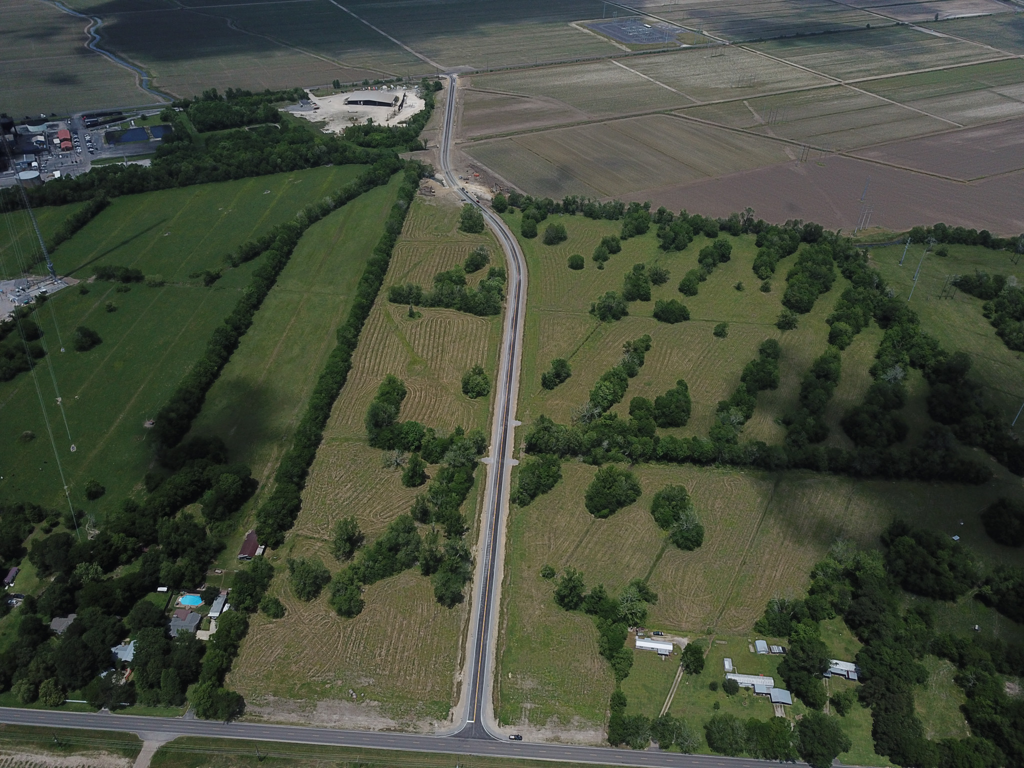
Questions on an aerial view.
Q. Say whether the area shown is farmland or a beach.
farmland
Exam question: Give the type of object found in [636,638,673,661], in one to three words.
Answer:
house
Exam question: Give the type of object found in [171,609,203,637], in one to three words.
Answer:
house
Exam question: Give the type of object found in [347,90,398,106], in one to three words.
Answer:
building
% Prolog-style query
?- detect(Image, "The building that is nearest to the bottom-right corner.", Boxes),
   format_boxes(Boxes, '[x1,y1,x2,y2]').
[828,661,857,682]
